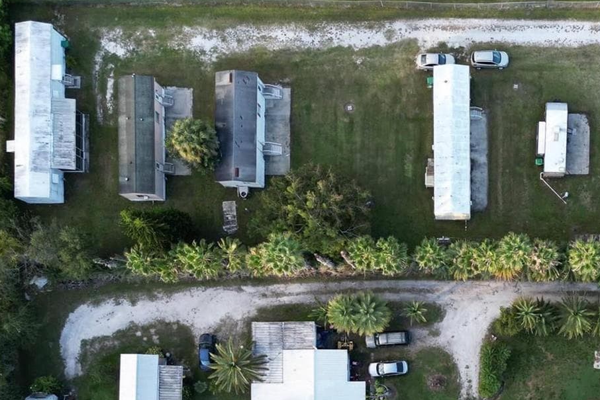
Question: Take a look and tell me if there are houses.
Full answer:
Yes, the picture does show a house.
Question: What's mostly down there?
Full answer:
Most of the picture is covered by grass.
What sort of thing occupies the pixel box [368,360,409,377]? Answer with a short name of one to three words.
car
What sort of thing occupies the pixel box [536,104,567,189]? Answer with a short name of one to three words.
trailer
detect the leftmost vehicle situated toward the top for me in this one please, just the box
[415,52,454,71]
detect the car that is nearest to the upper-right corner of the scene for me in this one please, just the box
[470,49,508,70]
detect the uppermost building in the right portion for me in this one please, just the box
[426,61,470,224]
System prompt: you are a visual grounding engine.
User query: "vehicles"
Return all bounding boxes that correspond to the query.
[368,360,409,377]
[197,331,215,370]
[367,331,410,349]
[415,52,454,71]
[470,49,508,70]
